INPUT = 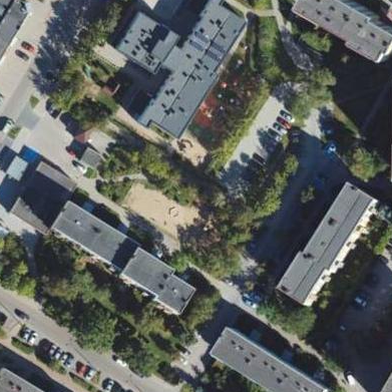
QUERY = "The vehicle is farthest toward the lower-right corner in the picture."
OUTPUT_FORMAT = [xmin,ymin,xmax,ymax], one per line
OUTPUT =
[343,371,357,388]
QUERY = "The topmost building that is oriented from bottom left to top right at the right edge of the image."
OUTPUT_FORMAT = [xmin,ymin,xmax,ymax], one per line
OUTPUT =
[277,182,382,306]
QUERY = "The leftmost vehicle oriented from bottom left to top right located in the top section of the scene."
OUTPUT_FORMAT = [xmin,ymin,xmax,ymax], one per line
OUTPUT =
[1,119,16,136]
